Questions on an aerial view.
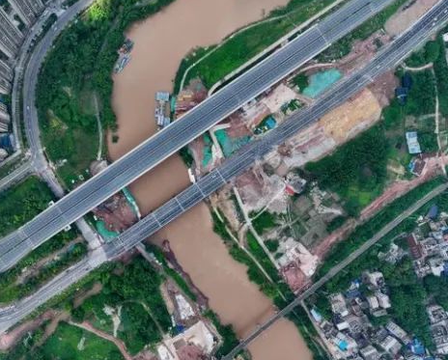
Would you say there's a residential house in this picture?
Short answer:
Yes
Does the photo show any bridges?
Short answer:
Yes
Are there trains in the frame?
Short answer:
No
